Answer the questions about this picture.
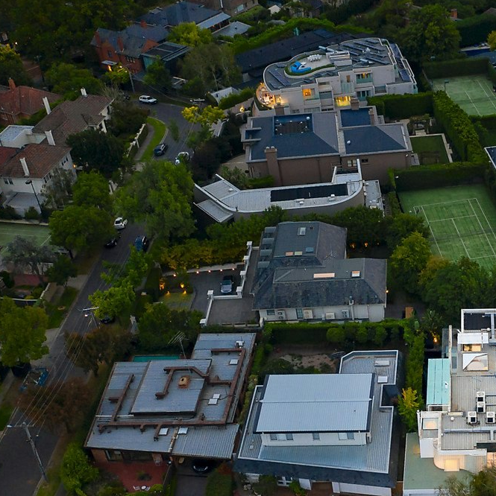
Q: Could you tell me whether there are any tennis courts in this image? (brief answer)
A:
Yes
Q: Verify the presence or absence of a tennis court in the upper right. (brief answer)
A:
Yes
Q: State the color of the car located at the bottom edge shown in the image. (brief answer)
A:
black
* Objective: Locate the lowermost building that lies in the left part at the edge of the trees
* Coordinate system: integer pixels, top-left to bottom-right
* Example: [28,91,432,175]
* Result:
[87,333,256,467]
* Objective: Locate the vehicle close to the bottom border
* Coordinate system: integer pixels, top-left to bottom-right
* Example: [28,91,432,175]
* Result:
[191,456,211,481]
